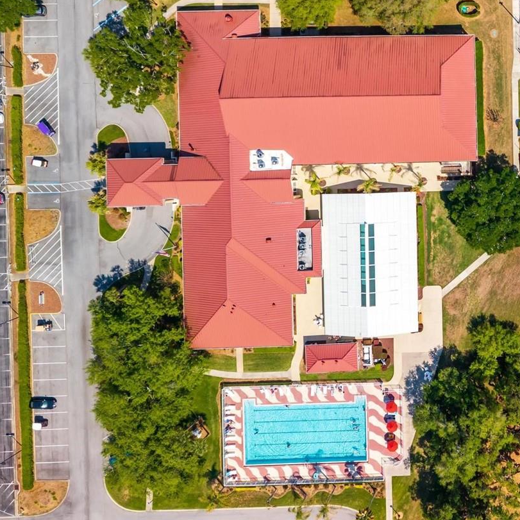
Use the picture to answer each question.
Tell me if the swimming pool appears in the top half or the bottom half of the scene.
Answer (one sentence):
The swimming pool sits in the bottom half of the picture.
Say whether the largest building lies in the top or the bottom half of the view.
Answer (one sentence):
The largest building is in the top half of the image.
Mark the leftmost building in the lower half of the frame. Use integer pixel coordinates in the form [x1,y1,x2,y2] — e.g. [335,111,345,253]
[305,342,359,374]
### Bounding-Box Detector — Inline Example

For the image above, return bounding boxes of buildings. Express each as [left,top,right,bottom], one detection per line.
[305,342,359,374]
[106,9,478,350]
